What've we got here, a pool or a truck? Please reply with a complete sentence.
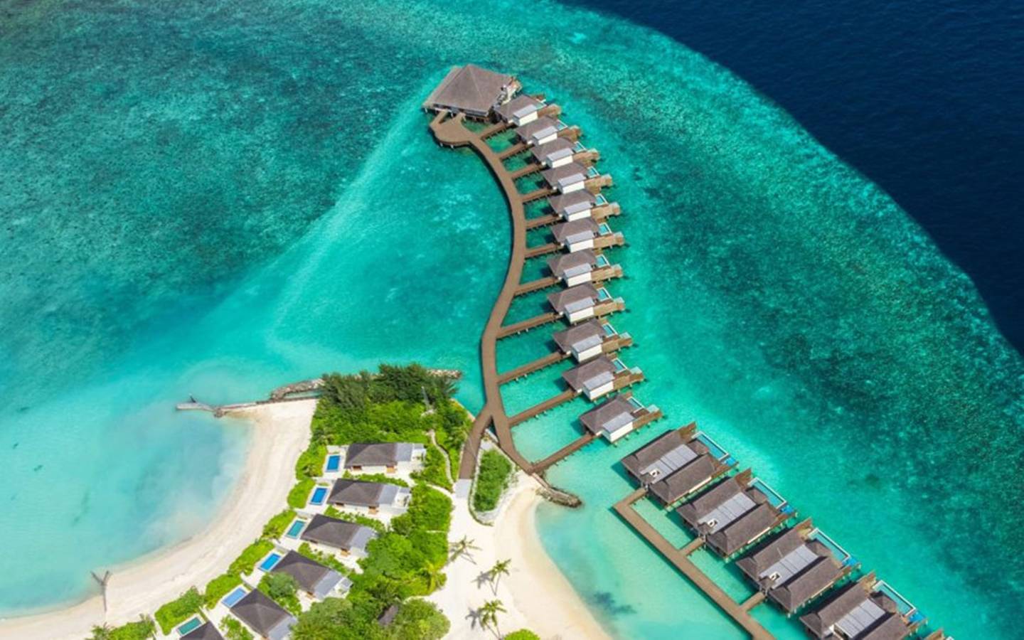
The image shows a pool.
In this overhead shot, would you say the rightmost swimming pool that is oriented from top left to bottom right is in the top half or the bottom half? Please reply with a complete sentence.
The rightmost swimming pool that is oriented from top left to bottom right is in the bottom half of the image.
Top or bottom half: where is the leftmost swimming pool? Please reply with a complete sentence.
Seen from above, the leftmost swimming pool lies in the bottom half of the view.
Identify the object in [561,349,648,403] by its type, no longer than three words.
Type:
house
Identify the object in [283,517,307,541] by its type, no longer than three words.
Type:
swimming pool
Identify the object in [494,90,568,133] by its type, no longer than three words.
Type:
house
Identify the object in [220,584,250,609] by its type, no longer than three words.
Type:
swimming pool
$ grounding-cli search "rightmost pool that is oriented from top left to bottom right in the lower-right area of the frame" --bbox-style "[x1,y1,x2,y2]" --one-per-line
[872,580,917,617]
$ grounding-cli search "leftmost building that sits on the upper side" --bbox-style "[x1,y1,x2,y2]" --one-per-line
[422,69,523,127]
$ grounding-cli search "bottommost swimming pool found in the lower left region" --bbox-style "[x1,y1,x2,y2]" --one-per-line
[172,614,202,638]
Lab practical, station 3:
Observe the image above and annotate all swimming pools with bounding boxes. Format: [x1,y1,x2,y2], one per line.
[595,221,611,235]
[594,286,611,302]
[283,517,307,541]
[594,253,610,268]
[592,193,607,207]
[536,97,550,110]
[872,580,917,617]
[610,358,628,375]
[572,140,586,153]
[172,614,202,638]
[600,322,618,338]
[256,548,284,572]
[691,431,731,463]
[585,165,599,178]
[220,584,250,609]
[747,477,788,511]
[324,452,342,472]
[308,485,328,507]
[555,118,570,131]
[808,528,851,563]
[625,396,644,411]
